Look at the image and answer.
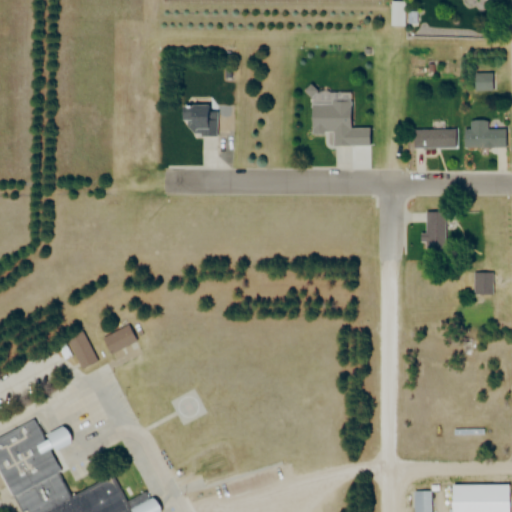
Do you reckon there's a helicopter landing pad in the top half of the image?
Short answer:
No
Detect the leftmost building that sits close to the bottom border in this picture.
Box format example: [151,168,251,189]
[0,418,160,512]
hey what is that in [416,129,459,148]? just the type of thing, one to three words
house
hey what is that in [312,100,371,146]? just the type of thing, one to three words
house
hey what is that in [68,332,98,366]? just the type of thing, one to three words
building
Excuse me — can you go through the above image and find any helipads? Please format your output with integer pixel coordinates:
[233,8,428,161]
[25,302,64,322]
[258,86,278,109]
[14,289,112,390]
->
[172,390,208,425]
